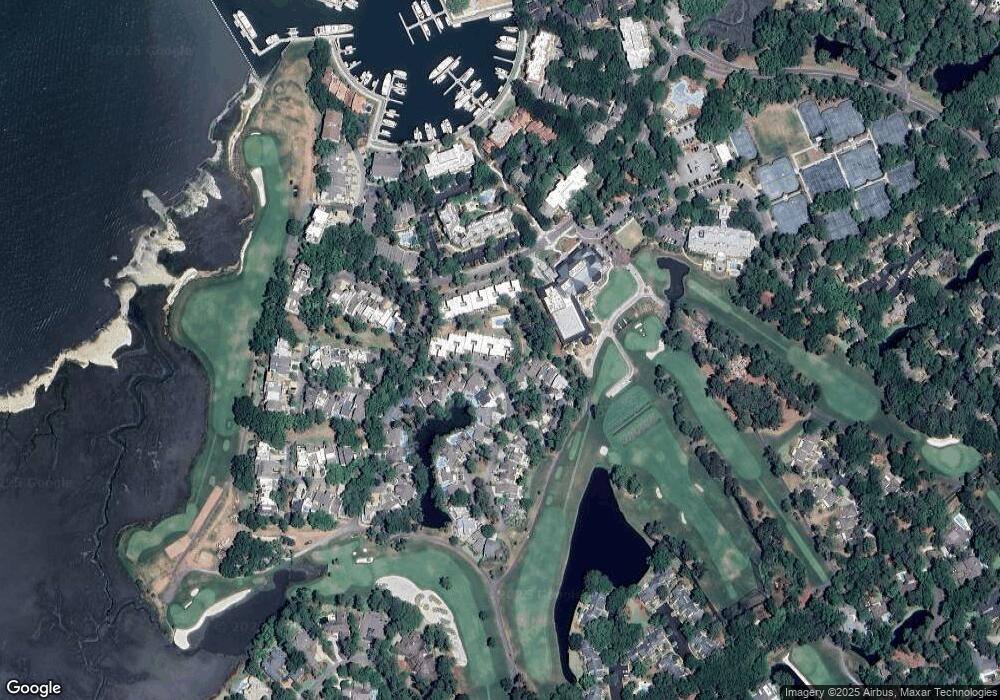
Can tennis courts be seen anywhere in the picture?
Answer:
Yes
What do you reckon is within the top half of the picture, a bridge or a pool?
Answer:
pool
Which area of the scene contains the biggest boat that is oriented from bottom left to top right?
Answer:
top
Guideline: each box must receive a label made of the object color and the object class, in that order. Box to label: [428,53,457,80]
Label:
white boat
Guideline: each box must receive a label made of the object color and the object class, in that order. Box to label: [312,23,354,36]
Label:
white boat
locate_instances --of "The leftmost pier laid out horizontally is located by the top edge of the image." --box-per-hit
[234,15,336,56]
